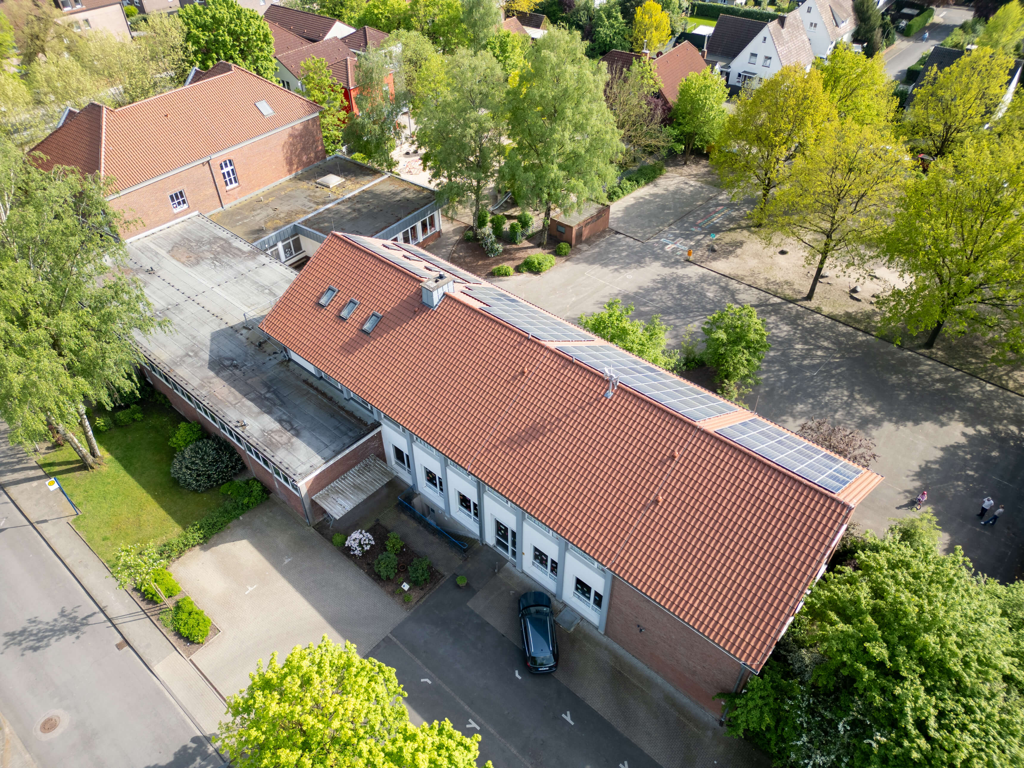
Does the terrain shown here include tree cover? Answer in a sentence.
Yes, the picture does contain tree cover.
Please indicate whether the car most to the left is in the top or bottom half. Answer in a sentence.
You can find the car most to the left in the bottom half.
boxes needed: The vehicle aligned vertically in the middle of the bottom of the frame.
[516,595,563,679]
